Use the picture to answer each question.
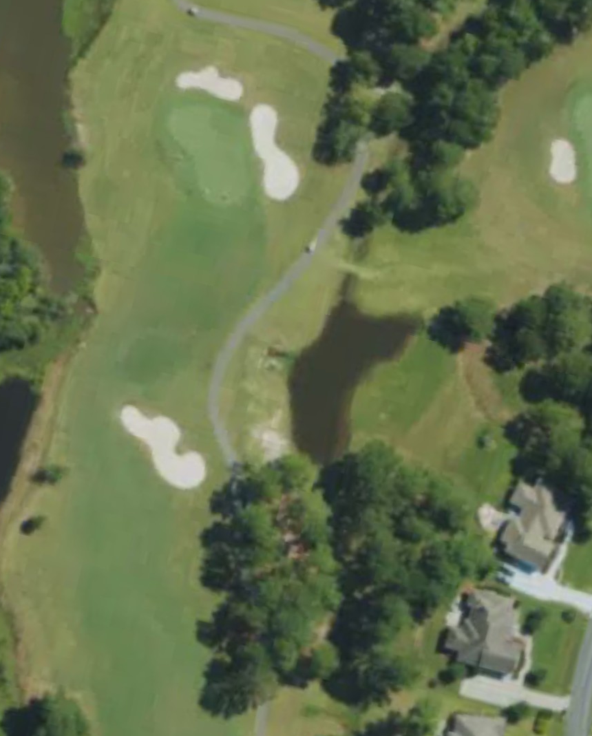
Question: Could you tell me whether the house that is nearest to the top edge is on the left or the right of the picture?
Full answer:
It is on the right.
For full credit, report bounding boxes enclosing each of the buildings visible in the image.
[442,590,526,676]
[448,713,508,736]
[494,478,564,574]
